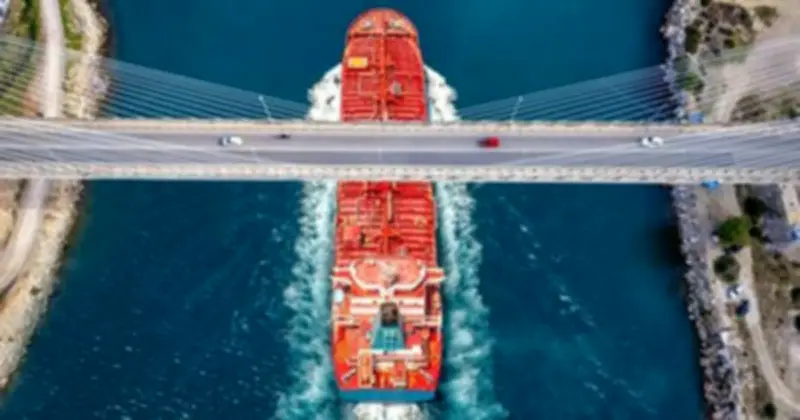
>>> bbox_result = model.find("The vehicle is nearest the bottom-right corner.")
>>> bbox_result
[740,300,753,319]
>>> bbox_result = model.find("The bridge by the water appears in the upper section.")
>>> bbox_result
[0,30,800,182]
